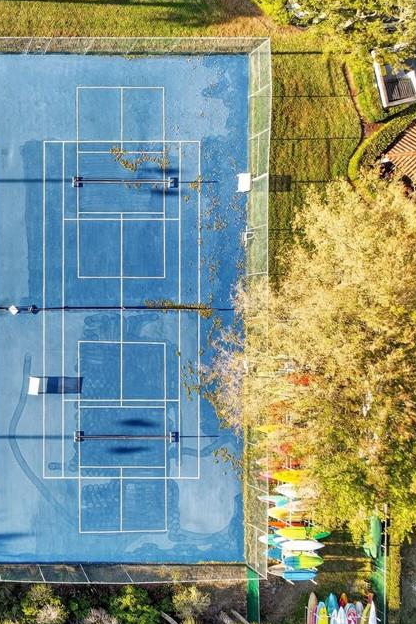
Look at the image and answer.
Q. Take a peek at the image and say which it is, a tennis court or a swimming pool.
tennis court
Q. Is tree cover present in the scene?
Yes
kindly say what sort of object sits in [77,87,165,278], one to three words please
sports court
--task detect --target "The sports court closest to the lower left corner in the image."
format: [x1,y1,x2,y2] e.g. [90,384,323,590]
[79,341,167,532]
